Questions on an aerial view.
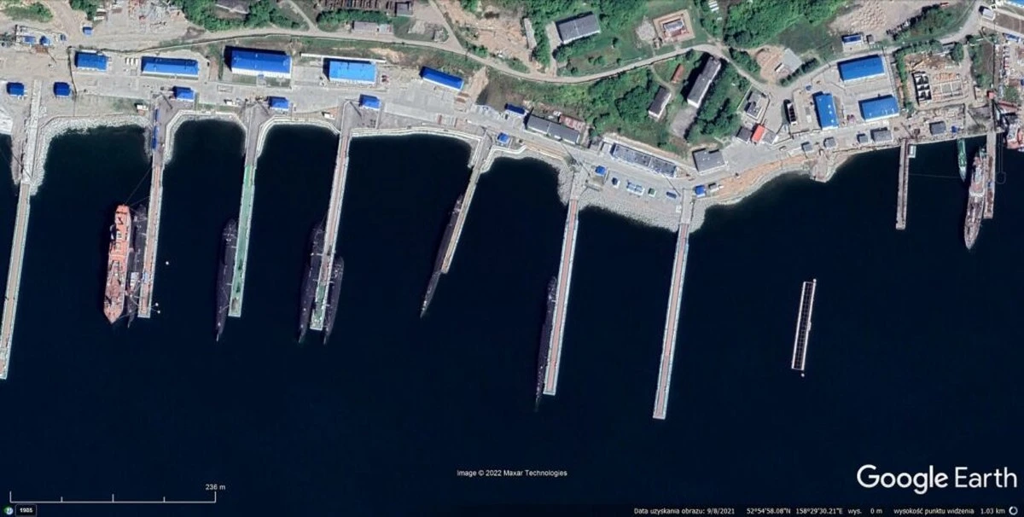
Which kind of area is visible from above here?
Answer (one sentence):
The area seen from above is a port.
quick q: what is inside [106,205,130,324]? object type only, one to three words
ship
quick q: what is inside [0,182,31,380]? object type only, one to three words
pier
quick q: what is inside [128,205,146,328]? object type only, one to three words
ship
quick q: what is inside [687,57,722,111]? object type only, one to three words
building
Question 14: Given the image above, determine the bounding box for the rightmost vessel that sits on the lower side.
[535,276,557,412]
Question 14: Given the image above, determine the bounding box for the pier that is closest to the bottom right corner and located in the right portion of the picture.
[792,282,815,370]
